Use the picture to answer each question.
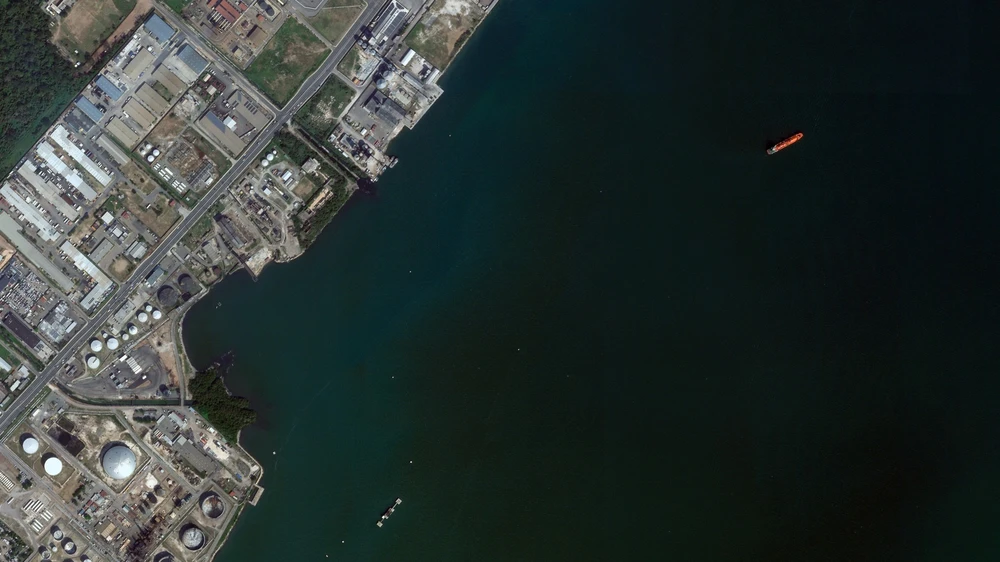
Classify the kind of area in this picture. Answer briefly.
port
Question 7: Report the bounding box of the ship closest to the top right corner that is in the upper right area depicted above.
[767,133,803,155]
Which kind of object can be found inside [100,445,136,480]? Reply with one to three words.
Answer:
storage tank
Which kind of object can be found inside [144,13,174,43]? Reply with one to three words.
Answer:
building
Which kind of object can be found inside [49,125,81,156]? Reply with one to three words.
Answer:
building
